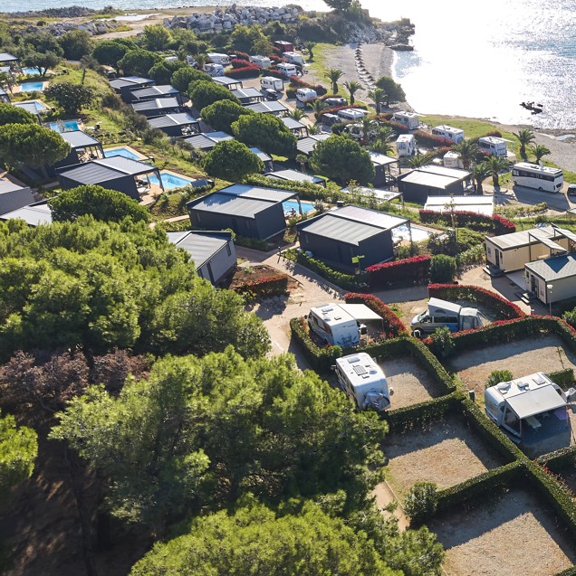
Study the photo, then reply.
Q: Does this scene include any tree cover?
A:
Yes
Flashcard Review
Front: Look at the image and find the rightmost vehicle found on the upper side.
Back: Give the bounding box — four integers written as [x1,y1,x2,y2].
[557,180,576,196]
